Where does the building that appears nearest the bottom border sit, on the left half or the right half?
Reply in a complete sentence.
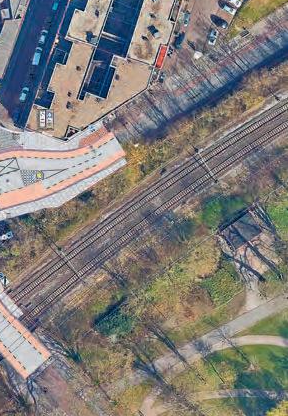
The building that appears nearest the bottom border is on the right side of the image.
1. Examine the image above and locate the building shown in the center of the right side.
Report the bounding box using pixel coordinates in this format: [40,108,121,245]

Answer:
[218,203,275,251]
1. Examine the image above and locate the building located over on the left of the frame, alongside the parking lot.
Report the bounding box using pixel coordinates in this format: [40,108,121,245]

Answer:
[22,0,175,142]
